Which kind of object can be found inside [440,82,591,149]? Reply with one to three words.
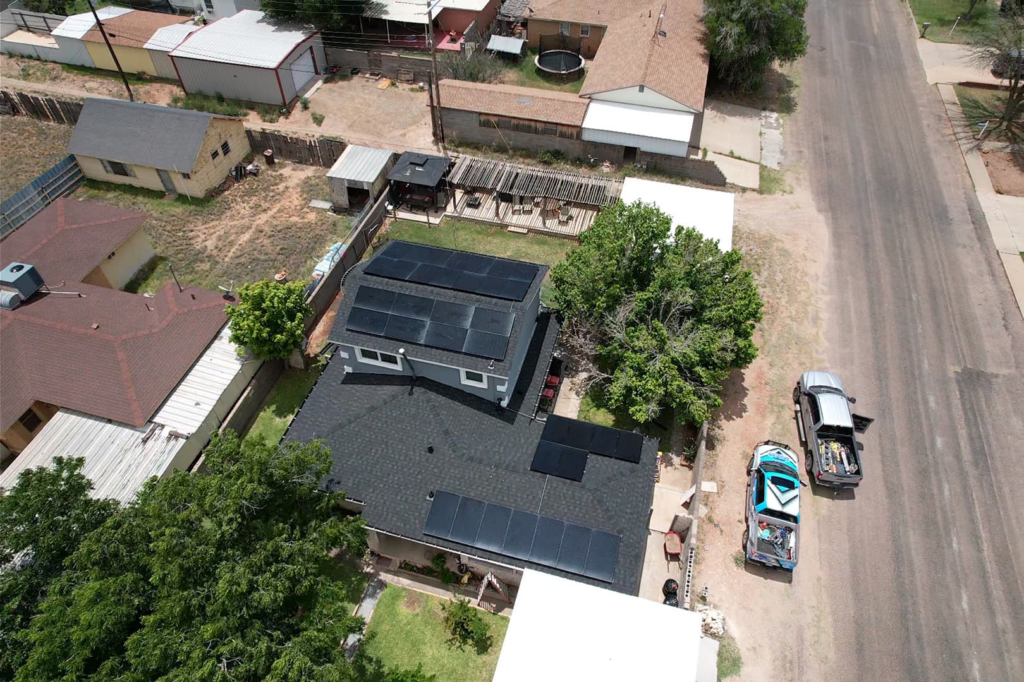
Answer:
building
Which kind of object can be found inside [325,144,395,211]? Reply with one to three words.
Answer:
shed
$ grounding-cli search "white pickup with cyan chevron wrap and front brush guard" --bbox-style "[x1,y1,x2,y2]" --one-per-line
[742,440,808,576]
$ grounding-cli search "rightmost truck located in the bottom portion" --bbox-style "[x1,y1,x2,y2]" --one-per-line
[795,373,881,495]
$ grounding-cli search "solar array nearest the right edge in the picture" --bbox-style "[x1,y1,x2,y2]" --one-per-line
[529,416,644,481]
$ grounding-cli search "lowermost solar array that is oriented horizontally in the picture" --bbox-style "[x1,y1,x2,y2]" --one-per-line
[424,491,621,583]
